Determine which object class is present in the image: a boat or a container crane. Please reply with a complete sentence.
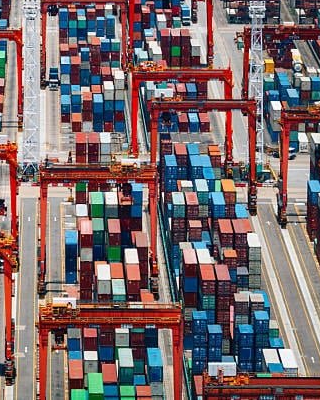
Visible in the photo is a container crane.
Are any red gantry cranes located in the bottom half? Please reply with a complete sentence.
Yes, the scene does show a red gantry crane in the bottom half.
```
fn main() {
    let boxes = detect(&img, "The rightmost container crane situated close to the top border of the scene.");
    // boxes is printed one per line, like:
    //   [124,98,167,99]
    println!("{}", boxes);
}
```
[236,16,320,125]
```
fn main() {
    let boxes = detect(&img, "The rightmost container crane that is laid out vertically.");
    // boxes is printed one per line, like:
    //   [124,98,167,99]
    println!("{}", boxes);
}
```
[275,104,320,224]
